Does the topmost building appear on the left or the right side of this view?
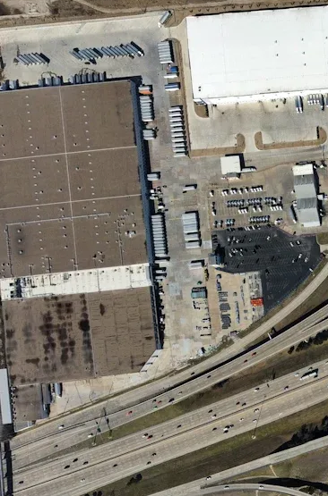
right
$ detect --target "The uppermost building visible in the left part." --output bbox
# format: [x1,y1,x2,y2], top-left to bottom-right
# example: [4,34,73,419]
[0,80,166,386]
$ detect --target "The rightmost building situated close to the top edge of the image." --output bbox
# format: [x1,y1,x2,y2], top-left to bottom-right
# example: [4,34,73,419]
[185,4,328,107]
